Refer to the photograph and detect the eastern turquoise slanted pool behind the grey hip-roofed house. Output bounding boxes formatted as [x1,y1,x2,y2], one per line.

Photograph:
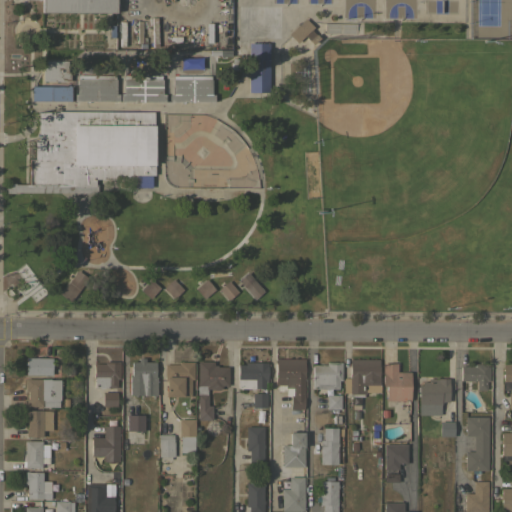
[466,391,487,412]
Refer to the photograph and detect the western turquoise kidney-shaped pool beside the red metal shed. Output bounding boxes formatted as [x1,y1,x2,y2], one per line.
[385,424,412,443]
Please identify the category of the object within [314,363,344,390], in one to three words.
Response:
house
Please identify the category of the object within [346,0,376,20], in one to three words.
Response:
basketball court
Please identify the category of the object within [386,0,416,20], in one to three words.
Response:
basketball court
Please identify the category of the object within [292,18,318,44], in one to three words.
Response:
building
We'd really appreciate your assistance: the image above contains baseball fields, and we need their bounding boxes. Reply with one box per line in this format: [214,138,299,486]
[318,38,512,242]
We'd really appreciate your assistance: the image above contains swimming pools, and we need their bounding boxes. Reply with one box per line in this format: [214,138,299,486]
[466,391,487,412]
[385,424,412,443]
